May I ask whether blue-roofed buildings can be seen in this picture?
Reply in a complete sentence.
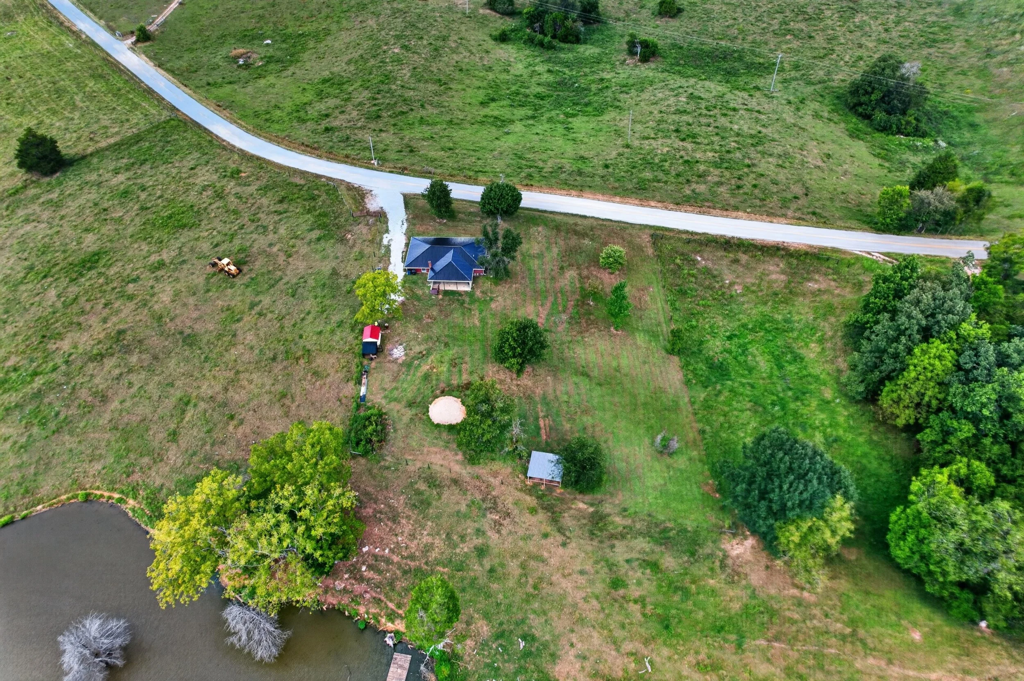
Yes, a blue-roofed building can be made out from above.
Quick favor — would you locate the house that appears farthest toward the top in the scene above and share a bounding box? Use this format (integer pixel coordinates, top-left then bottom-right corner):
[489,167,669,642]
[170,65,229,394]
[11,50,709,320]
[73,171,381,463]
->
[403,236,488,293]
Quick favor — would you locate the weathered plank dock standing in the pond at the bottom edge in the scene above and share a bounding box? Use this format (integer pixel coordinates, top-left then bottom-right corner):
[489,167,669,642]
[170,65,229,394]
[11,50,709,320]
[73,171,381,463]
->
[387,653,411,681]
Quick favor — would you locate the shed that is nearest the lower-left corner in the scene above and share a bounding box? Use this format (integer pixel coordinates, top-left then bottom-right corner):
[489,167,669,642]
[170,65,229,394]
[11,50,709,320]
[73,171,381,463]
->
[360,323,382,361]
